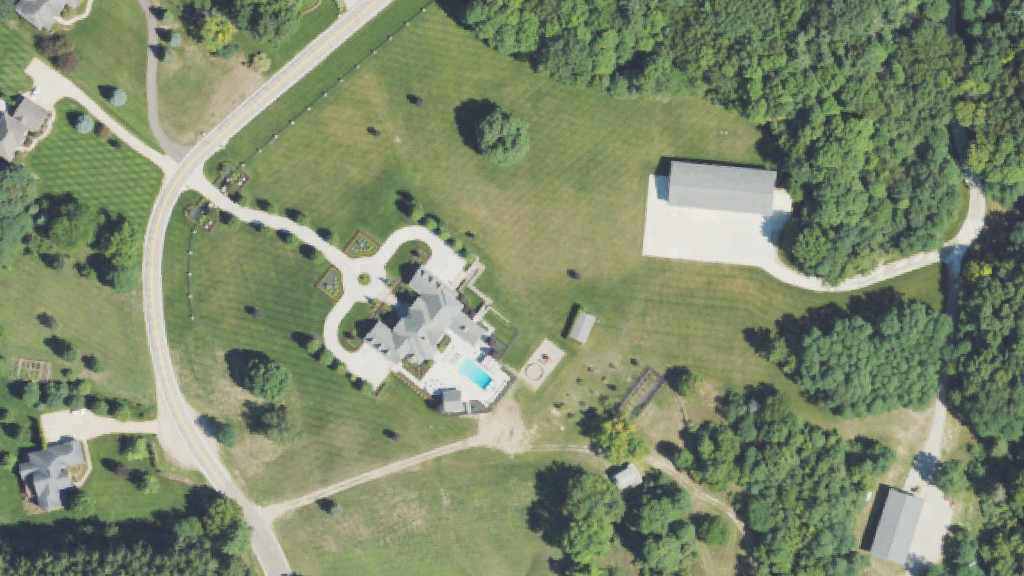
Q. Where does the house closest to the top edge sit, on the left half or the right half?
left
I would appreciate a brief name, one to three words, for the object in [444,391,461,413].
building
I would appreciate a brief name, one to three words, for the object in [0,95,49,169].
house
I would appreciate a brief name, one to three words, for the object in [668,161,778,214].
barn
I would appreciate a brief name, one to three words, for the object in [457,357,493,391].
swimming pool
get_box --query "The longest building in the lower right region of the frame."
[871,490,924,565]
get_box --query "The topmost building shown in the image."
[10,0,82,35]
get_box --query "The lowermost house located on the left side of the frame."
[18,441,85,510]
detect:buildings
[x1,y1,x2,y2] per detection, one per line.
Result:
[615,464,642,489]
[871,490,924,565]
[668,161,778,214]
[570,312,596,344]
[444,391,461,413]
[18,441,85,510]
[10,0,82,35]
[0,95,49,169]
[363,268,484,369]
